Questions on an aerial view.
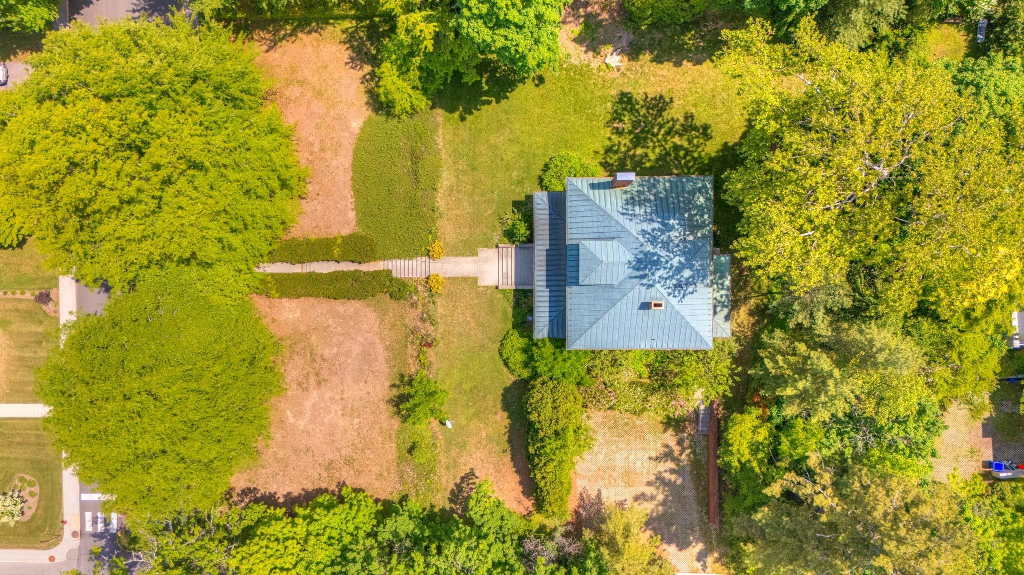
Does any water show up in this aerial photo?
No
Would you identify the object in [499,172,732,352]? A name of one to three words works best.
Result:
house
